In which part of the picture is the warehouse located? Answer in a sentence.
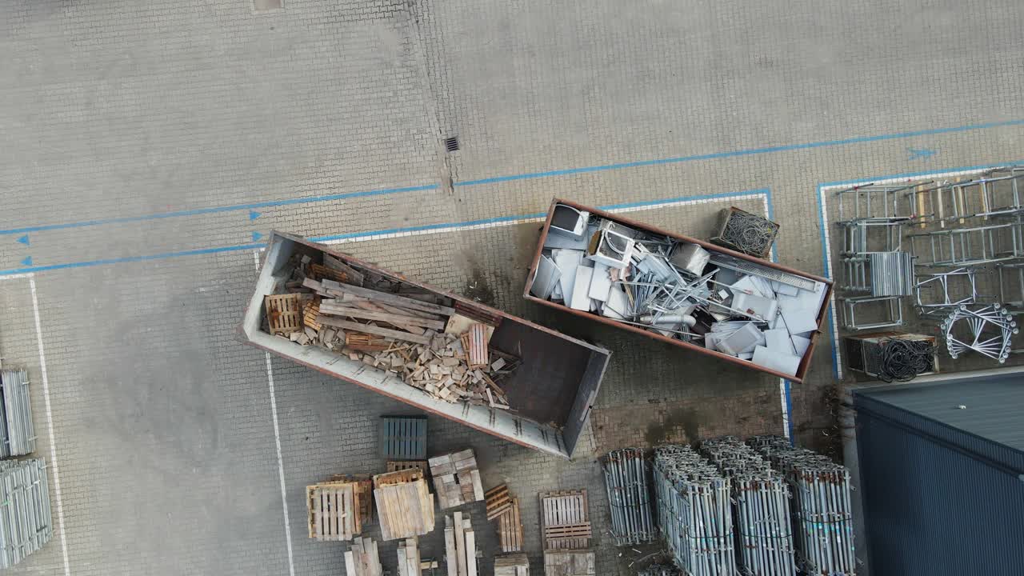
The warehouse is in the bottom right part of the image.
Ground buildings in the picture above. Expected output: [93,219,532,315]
[851,373,1024,576]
